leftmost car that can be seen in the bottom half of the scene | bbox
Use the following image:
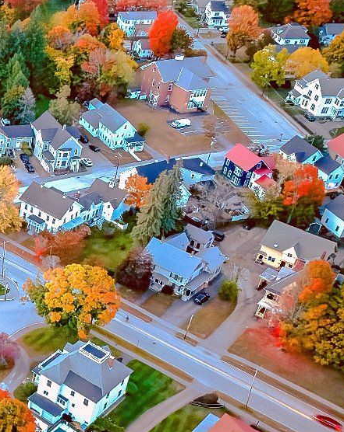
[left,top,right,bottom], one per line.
[193,290,212,304]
